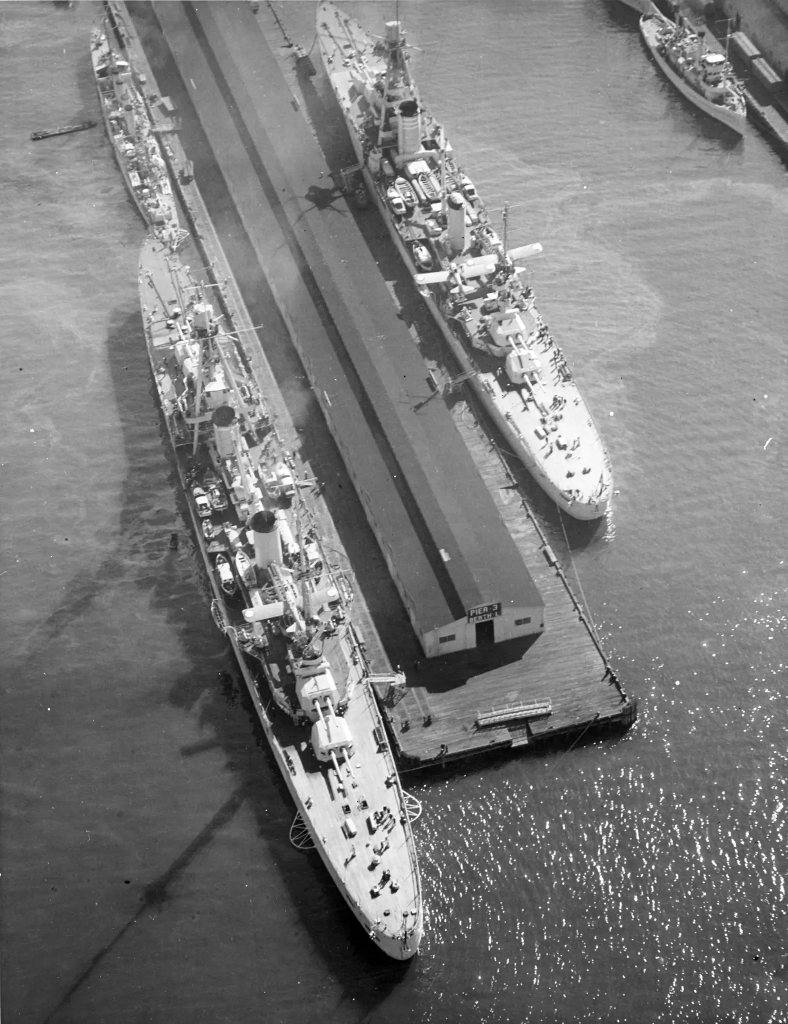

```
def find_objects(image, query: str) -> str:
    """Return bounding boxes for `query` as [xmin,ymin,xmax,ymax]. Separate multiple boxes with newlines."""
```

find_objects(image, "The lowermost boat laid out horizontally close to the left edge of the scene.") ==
[31,121,93,143]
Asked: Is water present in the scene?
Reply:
Yes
